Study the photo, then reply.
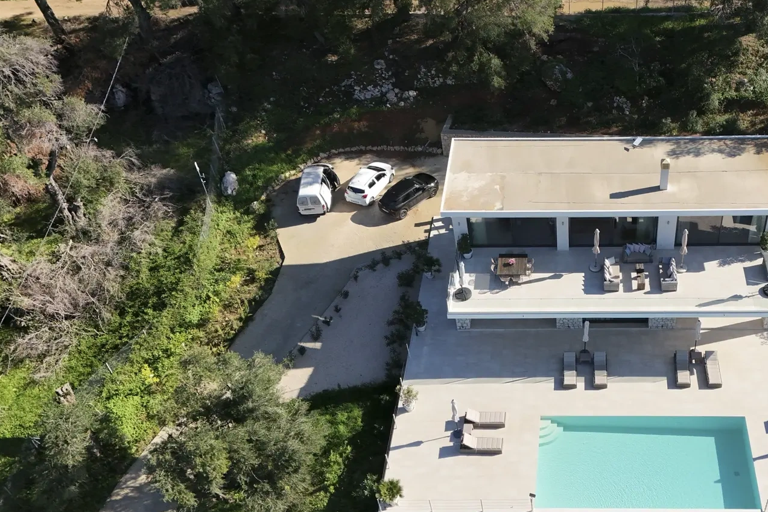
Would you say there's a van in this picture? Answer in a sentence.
Yes, looking at the shot, I can spot a van.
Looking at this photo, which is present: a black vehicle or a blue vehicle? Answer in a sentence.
The image shows a black vehicle.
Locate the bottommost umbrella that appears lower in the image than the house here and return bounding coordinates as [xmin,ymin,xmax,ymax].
[450,399,463,439]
